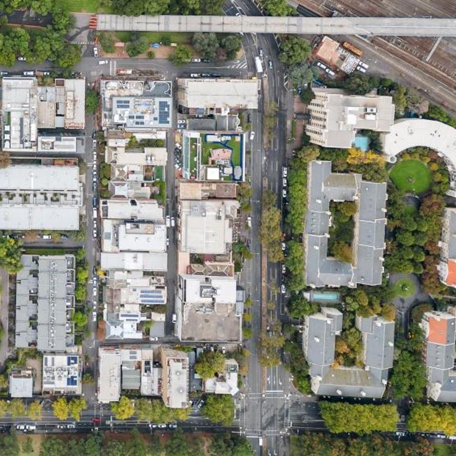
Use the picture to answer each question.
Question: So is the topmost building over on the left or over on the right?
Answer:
right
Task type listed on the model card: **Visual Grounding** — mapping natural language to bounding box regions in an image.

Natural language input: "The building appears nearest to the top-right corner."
[312,36,359,72]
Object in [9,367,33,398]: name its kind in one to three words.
house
